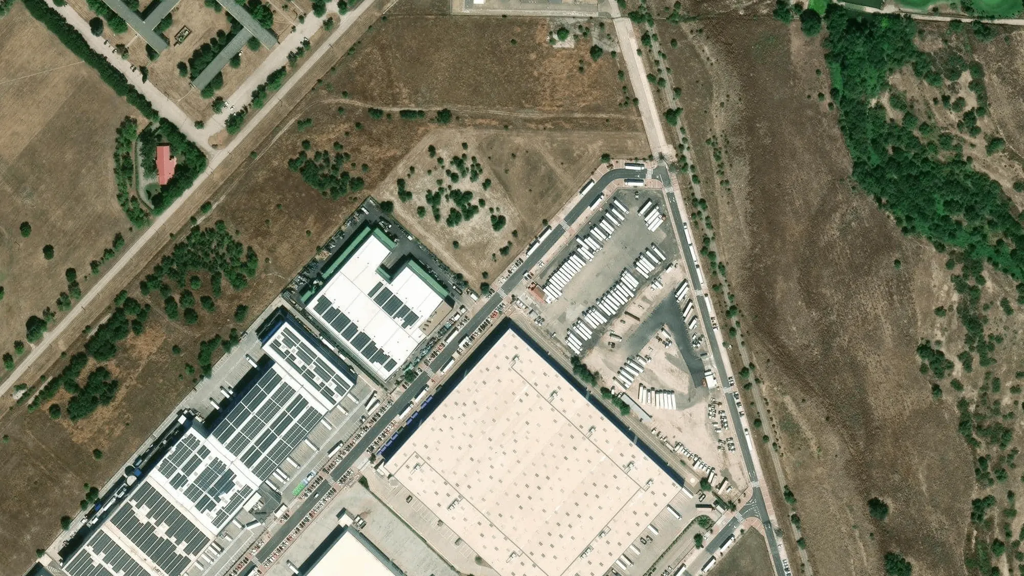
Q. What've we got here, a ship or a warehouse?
warehouse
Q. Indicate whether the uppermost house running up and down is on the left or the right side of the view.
left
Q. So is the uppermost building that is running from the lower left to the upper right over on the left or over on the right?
left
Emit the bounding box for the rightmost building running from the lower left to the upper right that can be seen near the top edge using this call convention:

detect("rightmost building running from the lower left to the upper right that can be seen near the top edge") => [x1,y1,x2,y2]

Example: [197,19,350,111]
[192,26,252,90]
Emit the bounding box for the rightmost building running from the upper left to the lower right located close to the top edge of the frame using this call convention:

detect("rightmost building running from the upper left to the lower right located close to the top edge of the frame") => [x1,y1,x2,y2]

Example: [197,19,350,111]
[217,0,281,50]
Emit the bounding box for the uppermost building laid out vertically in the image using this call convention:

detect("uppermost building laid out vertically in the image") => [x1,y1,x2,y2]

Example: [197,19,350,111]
[156,143,176,186]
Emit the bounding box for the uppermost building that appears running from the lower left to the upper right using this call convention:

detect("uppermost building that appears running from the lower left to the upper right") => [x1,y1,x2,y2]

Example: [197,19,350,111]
[145,0,182,30]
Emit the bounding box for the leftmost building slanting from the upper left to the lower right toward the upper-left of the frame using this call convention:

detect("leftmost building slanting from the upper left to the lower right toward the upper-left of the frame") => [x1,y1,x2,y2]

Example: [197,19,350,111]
[104,0,169,53]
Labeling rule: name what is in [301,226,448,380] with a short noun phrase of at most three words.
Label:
warehouse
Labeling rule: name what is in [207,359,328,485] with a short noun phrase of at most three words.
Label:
warehouse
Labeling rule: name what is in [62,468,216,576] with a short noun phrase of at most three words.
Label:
building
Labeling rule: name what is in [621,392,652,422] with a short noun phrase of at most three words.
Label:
shed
